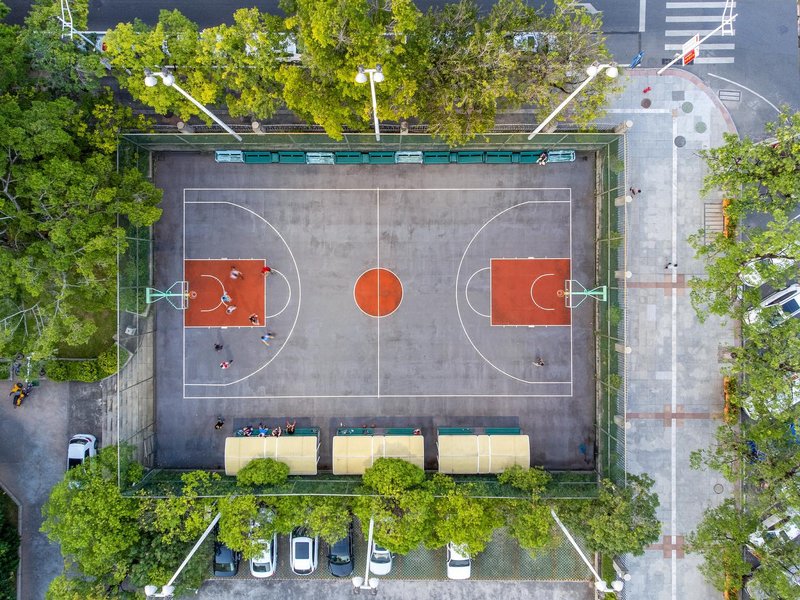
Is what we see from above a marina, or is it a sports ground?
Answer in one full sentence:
The picture captures a sports ground.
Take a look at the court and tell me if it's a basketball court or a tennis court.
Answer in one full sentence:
I'd say the court is a basketball court.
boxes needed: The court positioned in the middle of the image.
[152,149,597,470]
